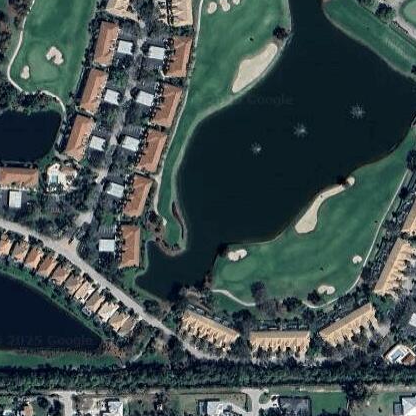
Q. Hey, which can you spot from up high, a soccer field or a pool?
pool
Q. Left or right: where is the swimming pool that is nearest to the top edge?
left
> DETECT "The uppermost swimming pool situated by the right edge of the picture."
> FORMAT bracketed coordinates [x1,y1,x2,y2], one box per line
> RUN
[385,344,416,363]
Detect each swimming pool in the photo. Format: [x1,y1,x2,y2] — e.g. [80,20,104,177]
[385,344,416,363]
[48,163,77,191]
[393,403,401,414]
